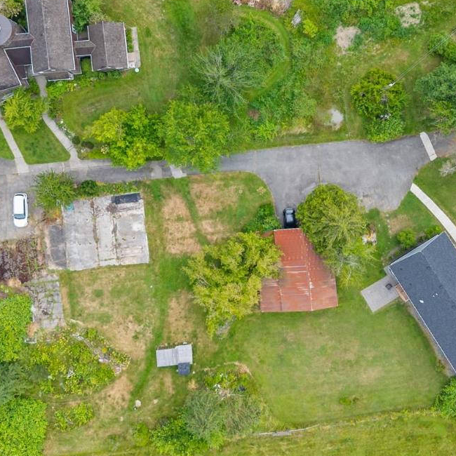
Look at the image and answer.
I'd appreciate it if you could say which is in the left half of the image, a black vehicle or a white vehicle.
white vehicle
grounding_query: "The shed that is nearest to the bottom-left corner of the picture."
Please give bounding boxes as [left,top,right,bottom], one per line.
[157,344,193,368]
